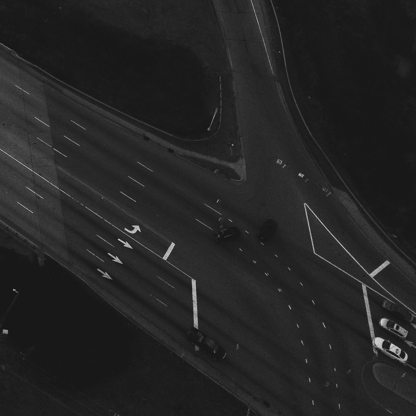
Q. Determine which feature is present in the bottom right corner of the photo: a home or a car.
car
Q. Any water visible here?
No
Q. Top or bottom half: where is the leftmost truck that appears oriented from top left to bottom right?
bottom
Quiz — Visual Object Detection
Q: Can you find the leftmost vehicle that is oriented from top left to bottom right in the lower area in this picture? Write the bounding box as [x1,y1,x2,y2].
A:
[179,319,234,368]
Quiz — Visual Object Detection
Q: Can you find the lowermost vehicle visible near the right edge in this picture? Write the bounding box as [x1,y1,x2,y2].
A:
[371,336,409,364]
